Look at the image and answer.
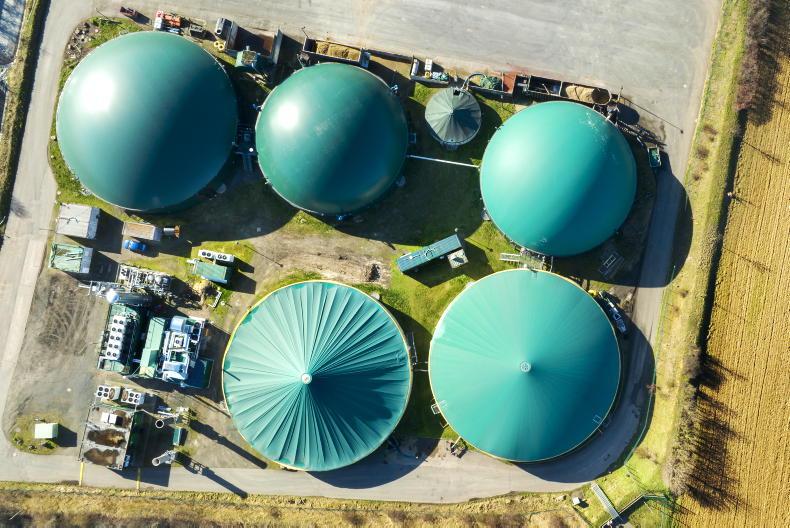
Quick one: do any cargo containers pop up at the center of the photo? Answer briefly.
Yes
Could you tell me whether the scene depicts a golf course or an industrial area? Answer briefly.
industrial area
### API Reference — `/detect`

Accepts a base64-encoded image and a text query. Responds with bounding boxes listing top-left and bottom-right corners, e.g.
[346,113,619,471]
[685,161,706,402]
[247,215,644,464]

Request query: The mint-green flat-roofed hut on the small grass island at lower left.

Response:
[35,422,66,438]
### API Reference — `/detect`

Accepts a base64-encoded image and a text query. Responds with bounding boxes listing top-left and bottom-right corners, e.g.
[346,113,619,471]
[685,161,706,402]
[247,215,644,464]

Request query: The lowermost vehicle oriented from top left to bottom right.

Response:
[603,294,630,333]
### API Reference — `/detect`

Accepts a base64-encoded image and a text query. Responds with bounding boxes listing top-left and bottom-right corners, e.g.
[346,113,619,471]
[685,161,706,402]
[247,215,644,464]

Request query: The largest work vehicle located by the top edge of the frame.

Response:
[151,7,179,29]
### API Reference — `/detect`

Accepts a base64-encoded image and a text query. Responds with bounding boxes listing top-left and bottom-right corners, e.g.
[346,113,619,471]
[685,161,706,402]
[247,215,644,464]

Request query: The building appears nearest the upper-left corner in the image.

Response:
[56,205,101,239]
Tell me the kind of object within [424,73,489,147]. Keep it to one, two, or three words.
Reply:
silo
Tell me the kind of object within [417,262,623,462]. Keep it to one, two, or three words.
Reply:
storage tank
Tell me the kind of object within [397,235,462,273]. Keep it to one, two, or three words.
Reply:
shipping container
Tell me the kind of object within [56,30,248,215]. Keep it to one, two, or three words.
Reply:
storage tank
